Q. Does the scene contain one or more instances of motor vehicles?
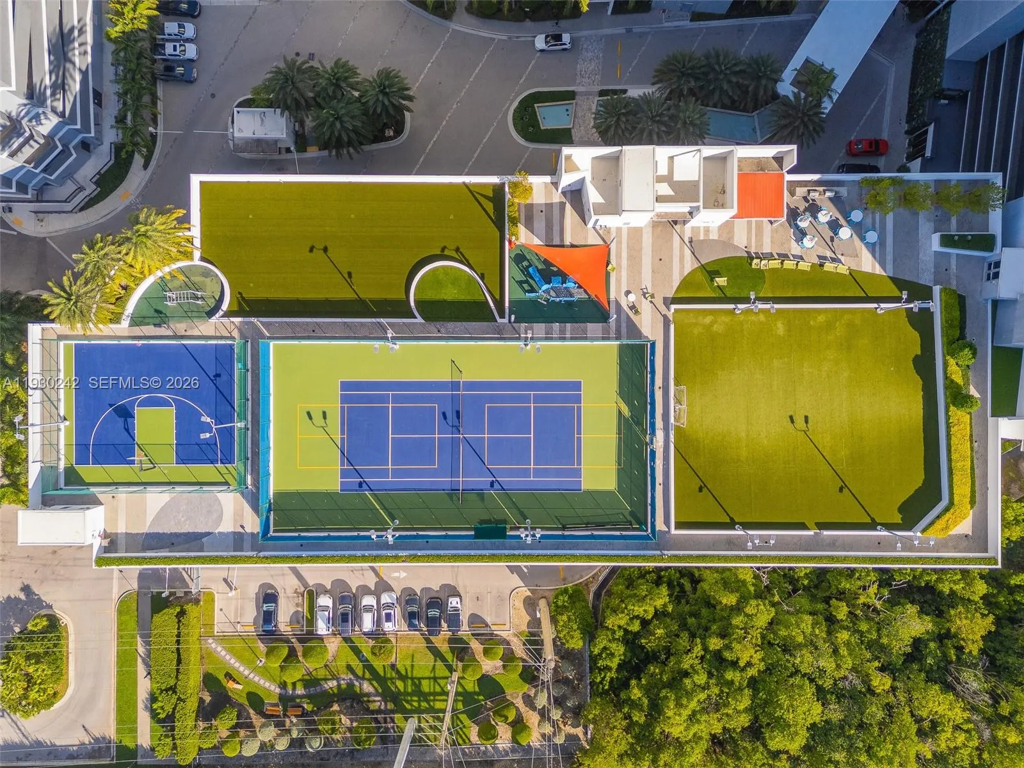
Yes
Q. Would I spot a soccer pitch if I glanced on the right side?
Yes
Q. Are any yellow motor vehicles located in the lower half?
No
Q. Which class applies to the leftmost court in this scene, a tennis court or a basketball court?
basketball court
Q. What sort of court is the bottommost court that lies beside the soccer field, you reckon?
tennis court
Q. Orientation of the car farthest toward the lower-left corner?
up and down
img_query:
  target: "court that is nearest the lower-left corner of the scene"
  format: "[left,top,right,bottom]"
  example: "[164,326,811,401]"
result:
[59,340,241,489]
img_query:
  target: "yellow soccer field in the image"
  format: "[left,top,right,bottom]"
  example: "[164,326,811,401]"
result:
[669,287,947,534]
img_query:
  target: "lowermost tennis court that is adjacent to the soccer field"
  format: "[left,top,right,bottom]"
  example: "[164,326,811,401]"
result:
[270,342,650,535]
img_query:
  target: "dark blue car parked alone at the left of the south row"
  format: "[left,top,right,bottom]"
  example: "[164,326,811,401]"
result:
[260,590,280,630]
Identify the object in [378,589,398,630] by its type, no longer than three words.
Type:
car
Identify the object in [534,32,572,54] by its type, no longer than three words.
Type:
car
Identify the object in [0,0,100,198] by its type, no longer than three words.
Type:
building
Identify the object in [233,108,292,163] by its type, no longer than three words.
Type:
building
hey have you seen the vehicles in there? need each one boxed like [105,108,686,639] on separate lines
[534,32,572,54]
[158,62,197,84]
[836,159,878,174]
[424,595,443,635]
[403,591,422,630]
[359,591,378,632]
[846,136,886,157]
[315,592,334,633]
[153,19,199,43]
[154,40,201,64]
[378,589,398,630]
[335,592,355,632]
[260,590,280,630]
[445,592,464,632]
